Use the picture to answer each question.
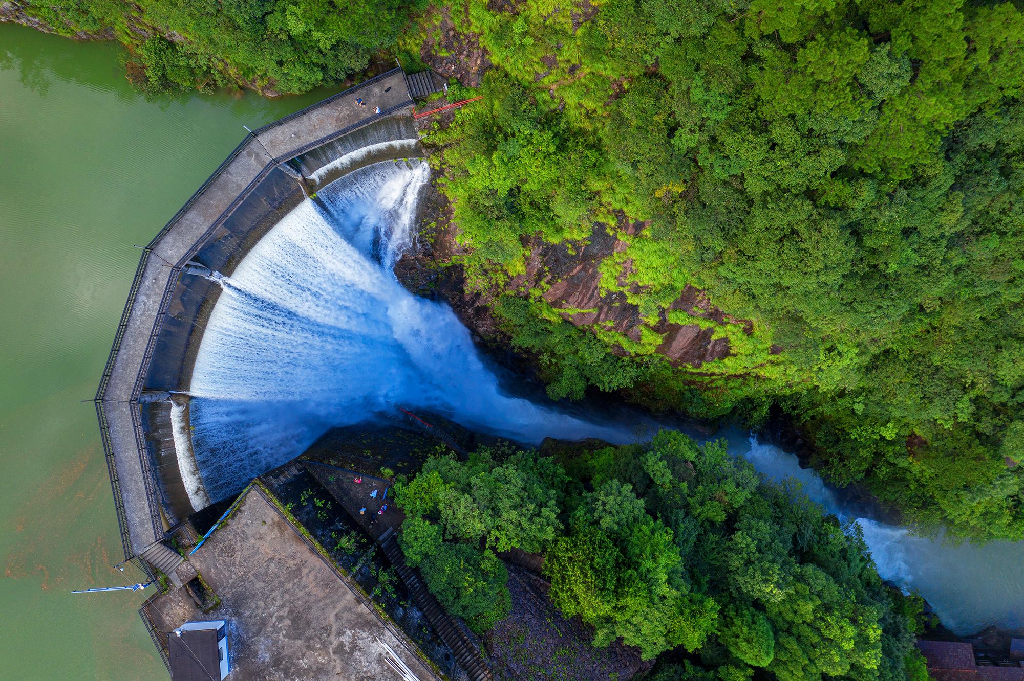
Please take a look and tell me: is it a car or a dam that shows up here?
dam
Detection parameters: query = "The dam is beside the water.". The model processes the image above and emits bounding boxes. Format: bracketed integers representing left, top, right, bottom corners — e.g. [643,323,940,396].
[142,94,462,541]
